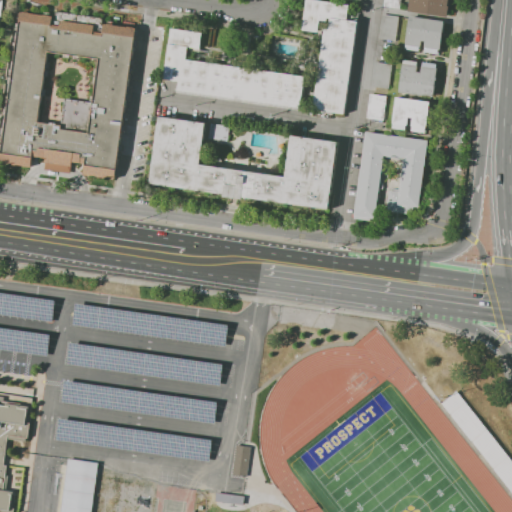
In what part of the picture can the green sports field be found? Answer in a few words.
bottom right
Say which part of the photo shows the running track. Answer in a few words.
bottom right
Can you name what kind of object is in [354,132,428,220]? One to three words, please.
house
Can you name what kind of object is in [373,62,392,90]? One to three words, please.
building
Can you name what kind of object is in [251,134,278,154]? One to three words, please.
swimming pool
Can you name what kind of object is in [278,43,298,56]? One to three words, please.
swimming pool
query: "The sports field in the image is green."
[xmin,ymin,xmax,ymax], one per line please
[286,379,496,512]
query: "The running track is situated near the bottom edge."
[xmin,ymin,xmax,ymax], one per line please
[258,328,512,512]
